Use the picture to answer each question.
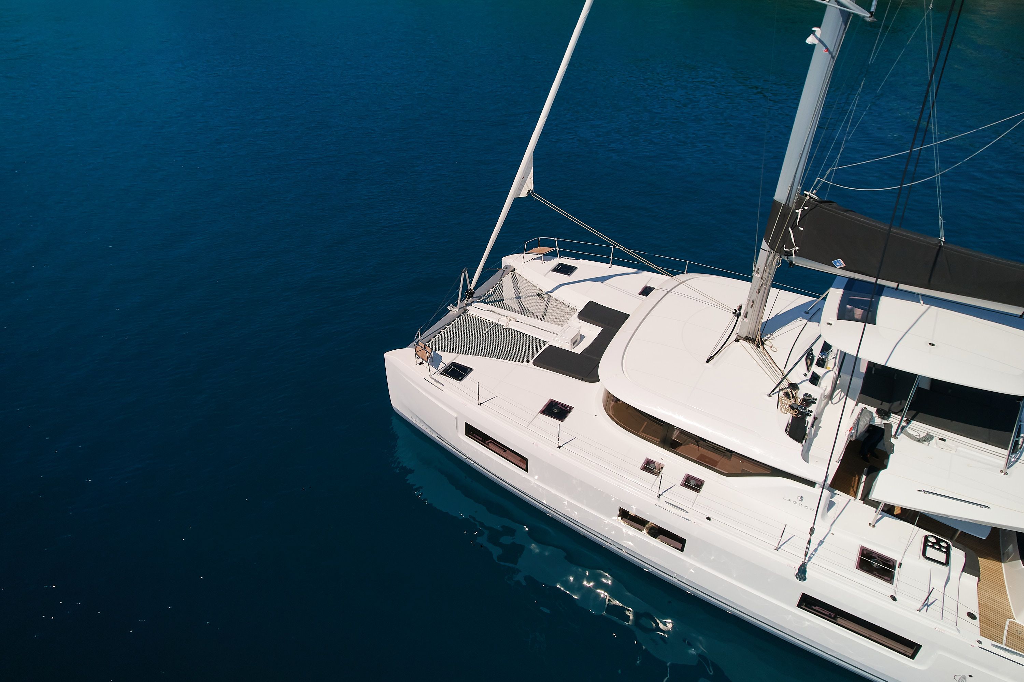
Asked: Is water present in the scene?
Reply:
Yes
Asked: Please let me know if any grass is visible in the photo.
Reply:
No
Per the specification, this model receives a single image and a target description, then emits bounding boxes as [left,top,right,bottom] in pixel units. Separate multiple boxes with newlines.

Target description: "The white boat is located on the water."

[383,0,1024,682]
